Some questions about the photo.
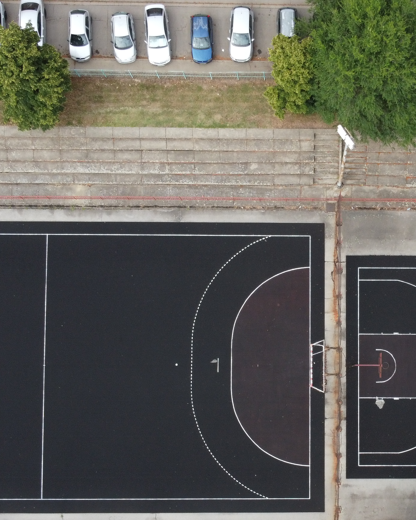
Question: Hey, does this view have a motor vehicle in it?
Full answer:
Yes, there's a motor vehicle here.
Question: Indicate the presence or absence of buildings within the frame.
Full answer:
No, the scene contains no building.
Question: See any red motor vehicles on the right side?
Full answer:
No, I can find no red motor vehicle on the right side.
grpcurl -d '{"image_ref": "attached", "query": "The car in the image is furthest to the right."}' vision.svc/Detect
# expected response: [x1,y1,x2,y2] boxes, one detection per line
[273,8,298,43]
